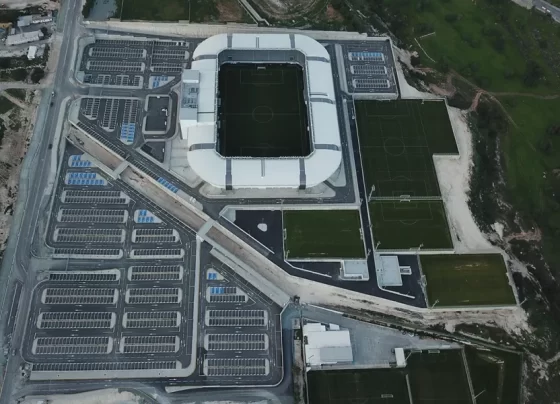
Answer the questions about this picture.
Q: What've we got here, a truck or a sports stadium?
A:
sports stadium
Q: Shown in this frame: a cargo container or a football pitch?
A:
football pitch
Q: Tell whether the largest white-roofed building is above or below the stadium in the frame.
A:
below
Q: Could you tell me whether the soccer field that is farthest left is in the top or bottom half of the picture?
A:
top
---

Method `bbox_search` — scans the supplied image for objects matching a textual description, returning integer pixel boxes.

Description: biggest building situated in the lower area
[302,323,353,366]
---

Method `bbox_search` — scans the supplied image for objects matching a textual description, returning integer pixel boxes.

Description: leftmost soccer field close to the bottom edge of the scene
[306,367,411,404]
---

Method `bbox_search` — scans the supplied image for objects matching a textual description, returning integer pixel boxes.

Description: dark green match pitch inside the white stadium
[217,65,312,158]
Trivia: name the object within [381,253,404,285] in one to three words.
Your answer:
building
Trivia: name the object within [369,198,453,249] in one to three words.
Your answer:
soccer field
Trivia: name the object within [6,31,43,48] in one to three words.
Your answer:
building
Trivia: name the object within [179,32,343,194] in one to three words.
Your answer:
stadium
